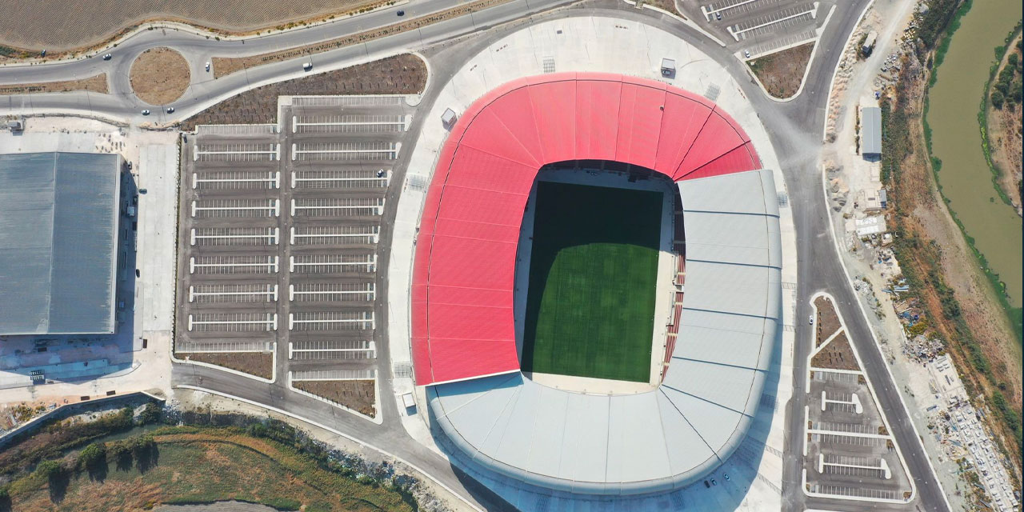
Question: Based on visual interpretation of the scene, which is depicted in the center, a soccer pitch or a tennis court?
soccer pitch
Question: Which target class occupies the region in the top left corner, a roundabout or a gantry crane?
roundabout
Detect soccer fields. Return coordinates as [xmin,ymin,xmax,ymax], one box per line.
[522,182,663,383]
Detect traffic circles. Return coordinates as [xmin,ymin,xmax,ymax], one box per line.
[128,45,192,107]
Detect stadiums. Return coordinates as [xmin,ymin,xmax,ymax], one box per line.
[411,71,783,495]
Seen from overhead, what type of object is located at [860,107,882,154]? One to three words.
shed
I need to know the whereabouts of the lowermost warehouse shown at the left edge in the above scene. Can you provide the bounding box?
[0,151,124,335]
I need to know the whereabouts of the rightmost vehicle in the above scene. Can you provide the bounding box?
[861,27,879,52]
